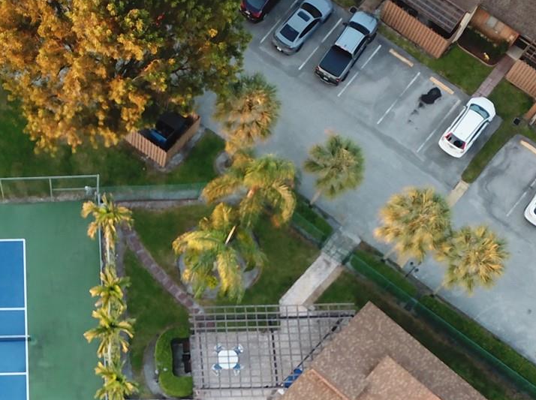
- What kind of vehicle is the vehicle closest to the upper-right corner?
automobile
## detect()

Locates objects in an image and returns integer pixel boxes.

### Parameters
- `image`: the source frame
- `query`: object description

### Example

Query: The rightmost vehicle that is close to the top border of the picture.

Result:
[312,9,382,84]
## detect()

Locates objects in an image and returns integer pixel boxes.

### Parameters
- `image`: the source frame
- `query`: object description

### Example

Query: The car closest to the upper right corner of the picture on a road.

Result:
[439,95,497,160]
